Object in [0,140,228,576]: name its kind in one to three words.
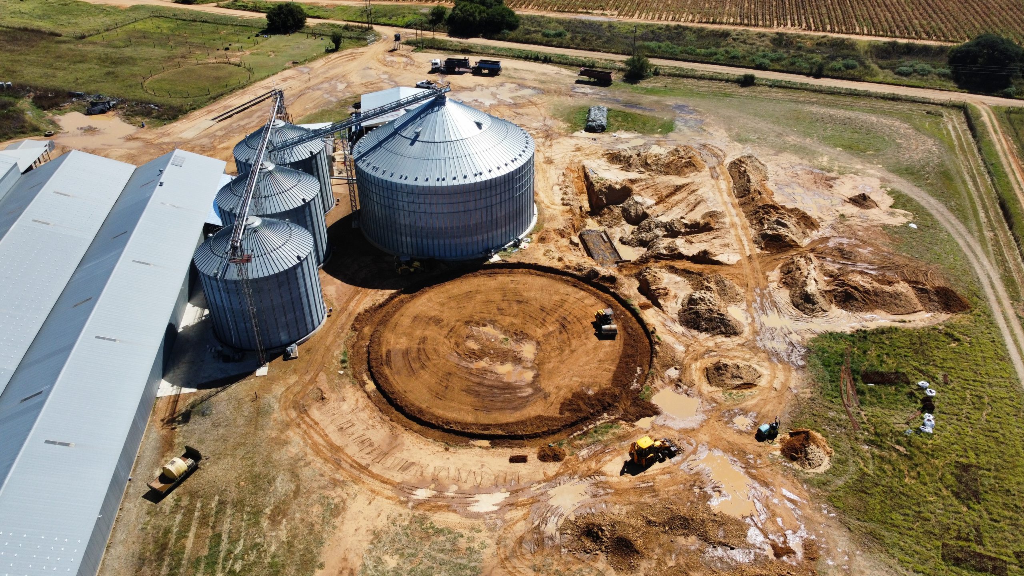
shed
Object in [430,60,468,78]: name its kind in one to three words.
vehicle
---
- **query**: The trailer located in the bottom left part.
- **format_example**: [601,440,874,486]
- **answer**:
[146,442,205,493]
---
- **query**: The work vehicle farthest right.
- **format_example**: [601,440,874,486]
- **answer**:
[754,421,788,445]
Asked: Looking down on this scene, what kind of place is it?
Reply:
industrial area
